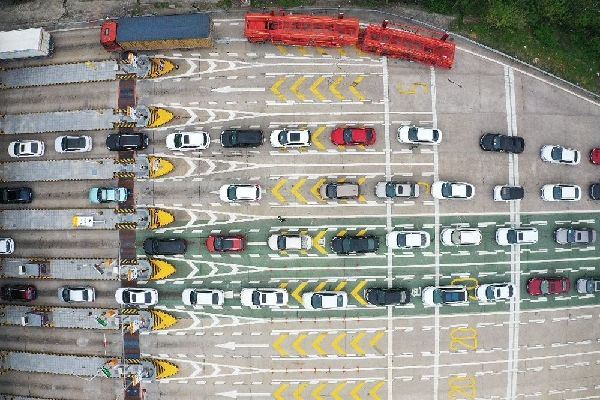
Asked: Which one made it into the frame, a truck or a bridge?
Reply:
truck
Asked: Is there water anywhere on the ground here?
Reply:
No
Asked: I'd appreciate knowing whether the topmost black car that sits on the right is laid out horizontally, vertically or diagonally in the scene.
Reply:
horizontally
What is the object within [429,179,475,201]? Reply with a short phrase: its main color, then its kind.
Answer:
white car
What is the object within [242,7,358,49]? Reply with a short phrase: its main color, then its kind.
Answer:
red truck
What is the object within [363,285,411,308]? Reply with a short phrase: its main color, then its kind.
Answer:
black car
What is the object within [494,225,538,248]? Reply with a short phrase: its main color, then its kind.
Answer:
white car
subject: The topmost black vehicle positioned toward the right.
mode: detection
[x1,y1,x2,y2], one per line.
[478,132,525,153]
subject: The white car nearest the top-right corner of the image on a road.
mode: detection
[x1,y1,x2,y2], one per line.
[538,143,580,165]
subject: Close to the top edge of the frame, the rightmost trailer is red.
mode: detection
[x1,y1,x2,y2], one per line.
[357,16,457,71]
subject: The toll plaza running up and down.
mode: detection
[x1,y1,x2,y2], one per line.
[0,25,179,400]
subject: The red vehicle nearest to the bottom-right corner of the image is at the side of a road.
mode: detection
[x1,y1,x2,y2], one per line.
[524,276,571,298]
